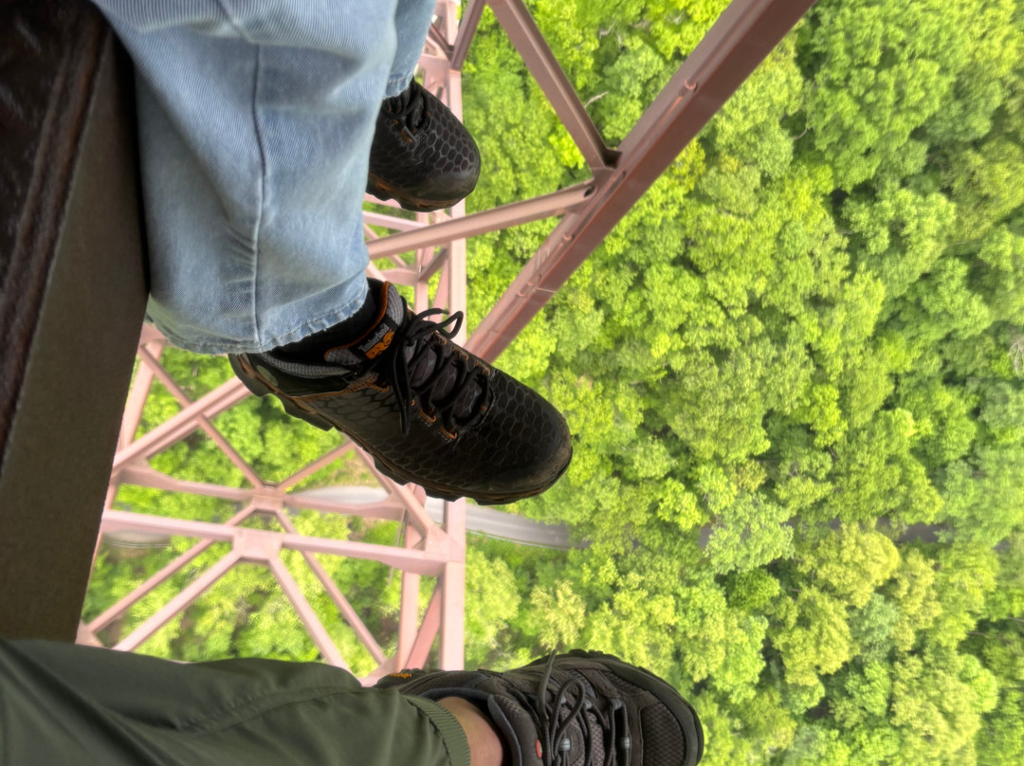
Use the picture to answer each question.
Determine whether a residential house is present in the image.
No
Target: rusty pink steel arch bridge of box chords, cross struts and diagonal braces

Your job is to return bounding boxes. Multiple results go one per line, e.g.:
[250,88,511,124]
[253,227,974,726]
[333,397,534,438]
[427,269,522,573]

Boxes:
[71,0,816,669]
